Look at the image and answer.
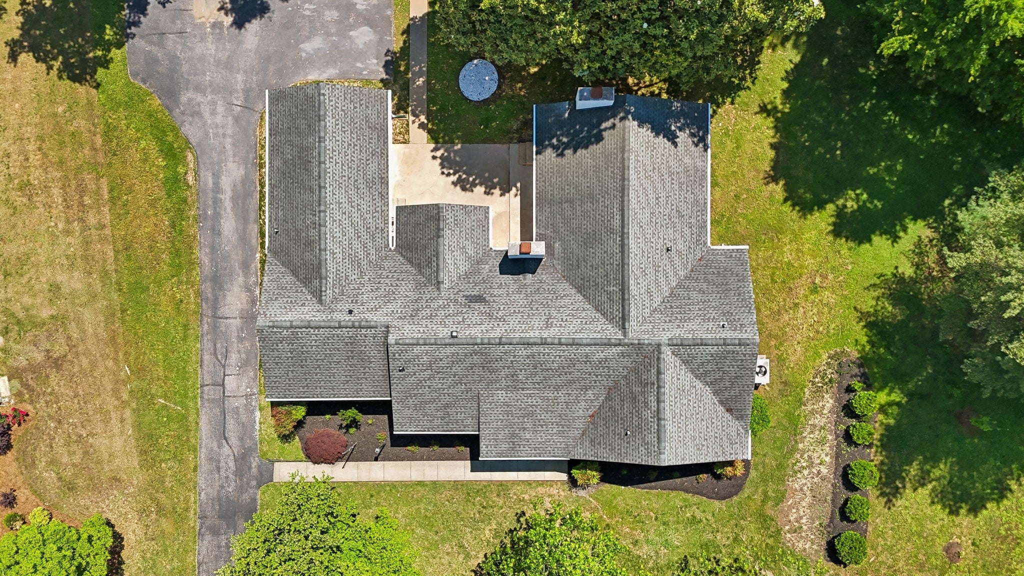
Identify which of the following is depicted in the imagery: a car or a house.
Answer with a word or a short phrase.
house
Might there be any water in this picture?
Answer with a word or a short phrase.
No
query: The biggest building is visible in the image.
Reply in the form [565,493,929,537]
[255,83,763,467]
